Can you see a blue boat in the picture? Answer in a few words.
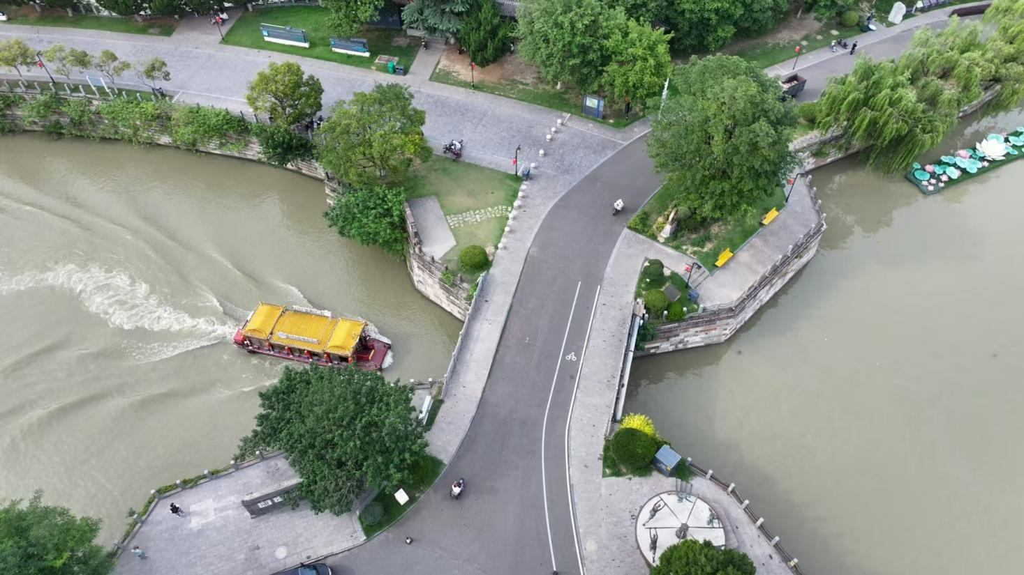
No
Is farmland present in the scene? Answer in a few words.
No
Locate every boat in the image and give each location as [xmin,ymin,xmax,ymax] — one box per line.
[235,297,394,376]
